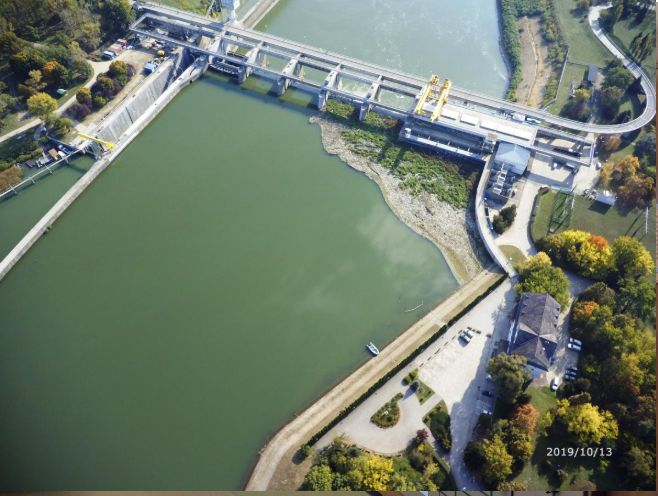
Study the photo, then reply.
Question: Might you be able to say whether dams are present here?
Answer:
Yes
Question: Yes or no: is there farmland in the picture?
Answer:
No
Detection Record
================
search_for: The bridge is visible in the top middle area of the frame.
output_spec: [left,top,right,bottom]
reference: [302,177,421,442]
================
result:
[136,0,658,139]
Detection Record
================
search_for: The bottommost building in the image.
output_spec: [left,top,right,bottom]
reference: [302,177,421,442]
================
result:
[492,294,560,384]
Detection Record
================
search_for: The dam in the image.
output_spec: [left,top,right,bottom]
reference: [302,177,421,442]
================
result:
[188,30,420,122]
